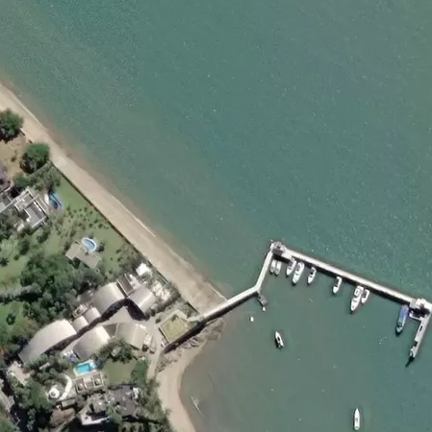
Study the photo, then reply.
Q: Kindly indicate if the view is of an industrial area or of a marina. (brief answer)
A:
marina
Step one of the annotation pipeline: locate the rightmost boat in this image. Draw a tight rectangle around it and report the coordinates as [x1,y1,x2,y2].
[397,305,409,333]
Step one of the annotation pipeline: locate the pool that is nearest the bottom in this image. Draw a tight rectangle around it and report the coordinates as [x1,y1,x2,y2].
[73,360,96,377]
